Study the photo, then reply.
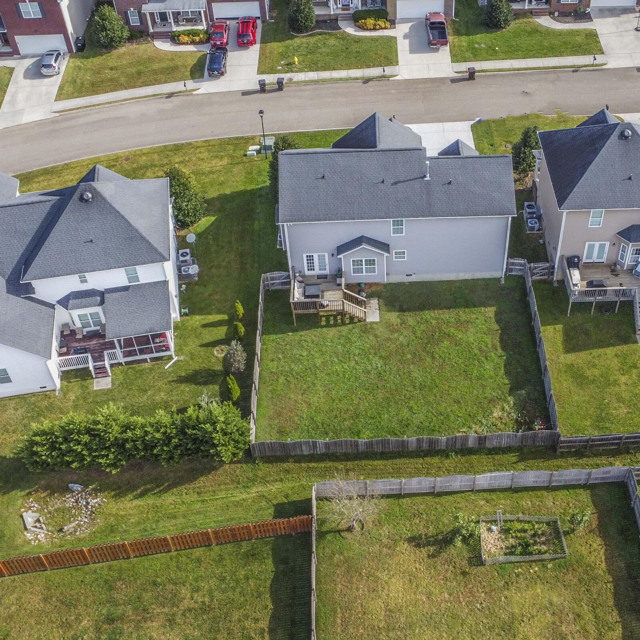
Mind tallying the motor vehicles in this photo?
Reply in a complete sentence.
The photo contains 5 motor vehicles.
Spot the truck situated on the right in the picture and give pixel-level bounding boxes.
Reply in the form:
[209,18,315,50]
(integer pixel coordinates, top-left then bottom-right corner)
[427,12,449,46]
